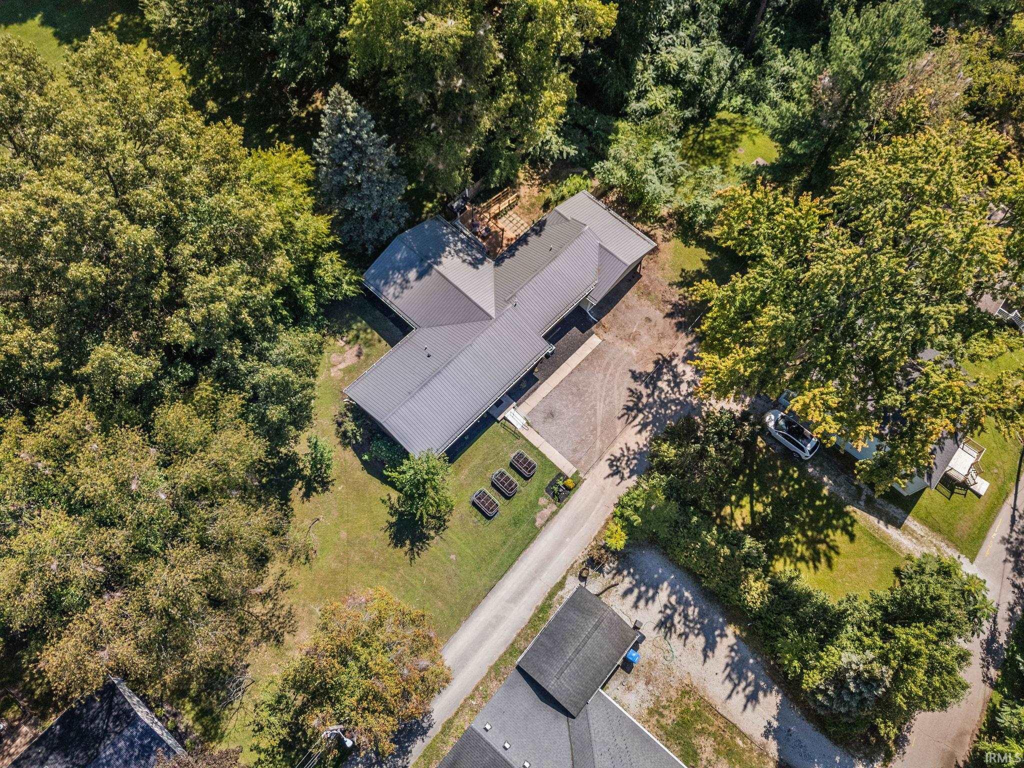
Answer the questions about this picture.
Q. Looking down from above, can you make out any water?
No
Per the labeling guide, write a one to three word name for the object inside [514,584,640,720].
building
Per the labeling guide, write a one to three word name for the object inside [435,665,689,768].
house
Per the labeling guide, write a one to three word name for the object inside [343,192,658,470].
house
